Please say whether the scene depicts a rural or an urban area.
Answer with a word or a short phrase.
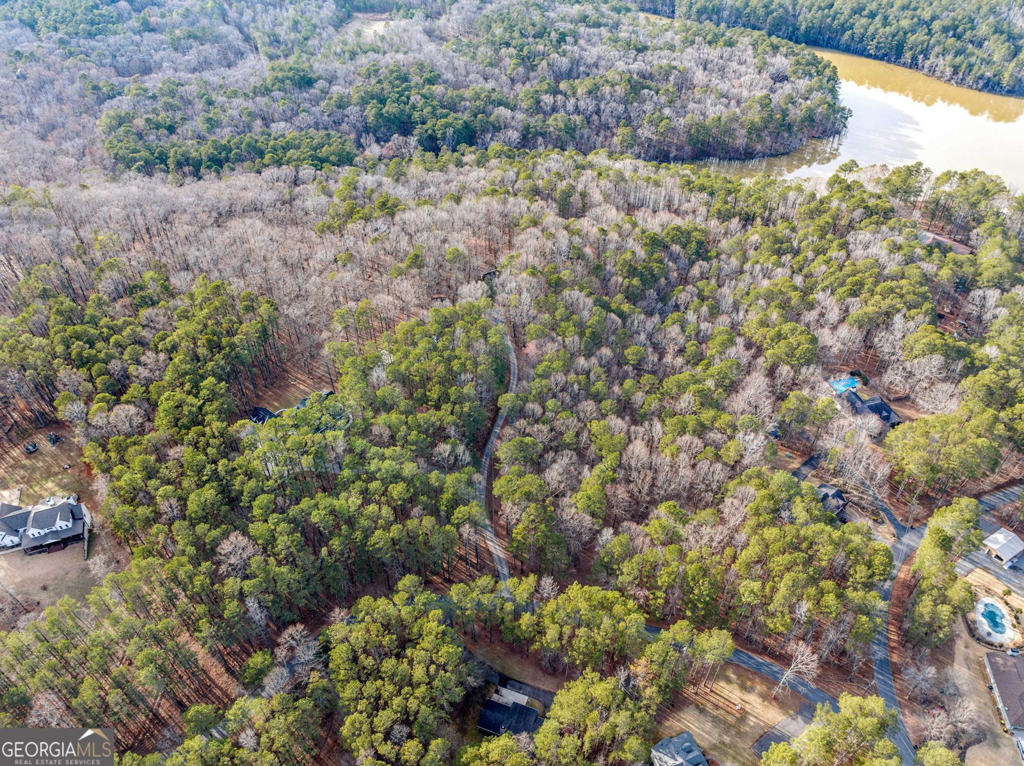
rural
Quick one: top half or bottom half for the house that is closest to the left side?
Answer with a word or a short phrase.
bottom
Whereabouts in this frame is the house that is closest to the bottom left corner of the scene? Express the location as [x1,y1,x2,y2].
[0,488,97,565]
